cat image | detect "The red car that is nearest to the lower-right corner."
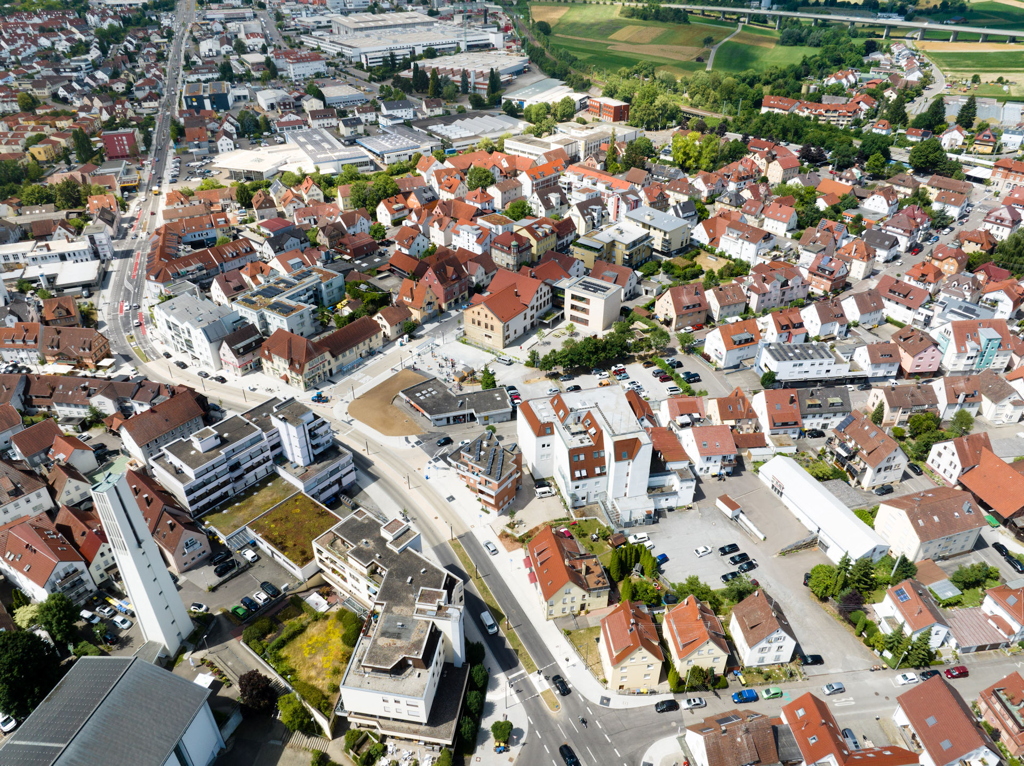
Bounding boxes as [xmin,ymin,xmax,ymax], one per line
[942,665,971,679]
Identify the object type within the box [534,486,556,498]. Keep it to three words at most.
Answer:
vehicle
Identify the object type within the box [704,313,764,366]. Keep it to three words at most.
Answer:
house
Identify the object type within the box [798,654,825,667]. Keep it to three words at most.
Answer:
vehicle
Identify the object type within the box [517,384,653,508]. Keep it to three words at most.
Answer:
building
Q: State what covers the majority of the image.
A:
buildings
